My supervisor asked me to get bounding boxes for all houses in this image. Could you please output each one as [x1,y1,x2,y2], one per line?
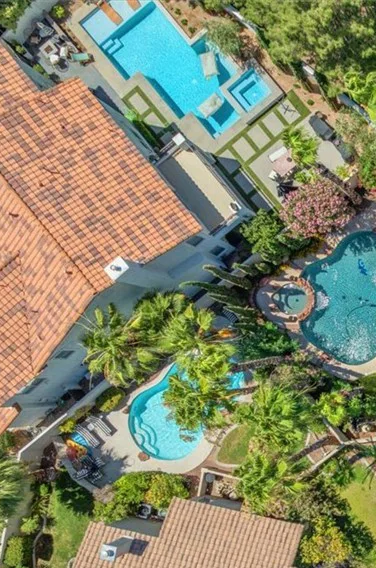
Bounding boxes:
[0,42,256,440]
[69,496,306,568]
